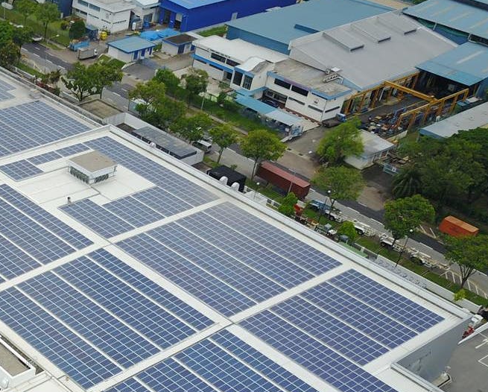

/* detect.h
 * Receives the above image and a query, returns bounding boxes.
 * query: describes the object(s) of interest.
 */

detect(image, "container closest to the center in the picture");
[256,156,317,195]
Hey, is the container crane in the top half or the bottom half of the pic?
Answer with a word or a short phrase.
top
